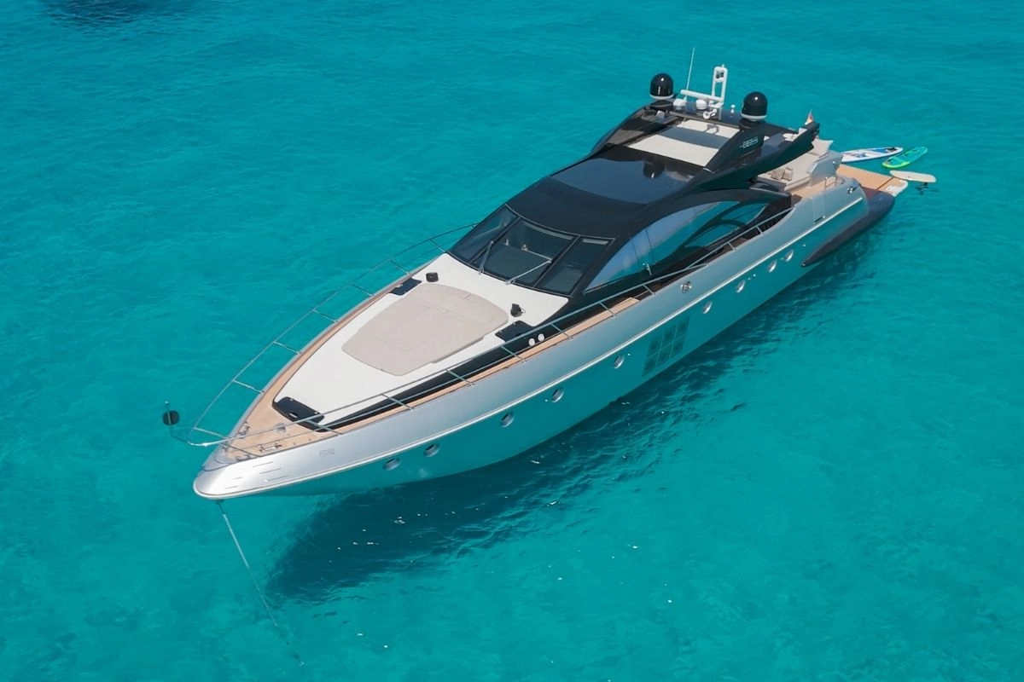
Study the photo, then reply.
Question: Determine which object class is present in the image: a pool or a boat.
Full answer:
The image shows a boat.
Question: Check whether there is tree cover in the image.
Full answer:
No, the scene doesn't show any tree cover.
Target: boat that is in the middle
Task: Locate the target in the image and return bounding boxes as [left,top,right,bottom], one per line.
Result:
[163,48,905,507]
